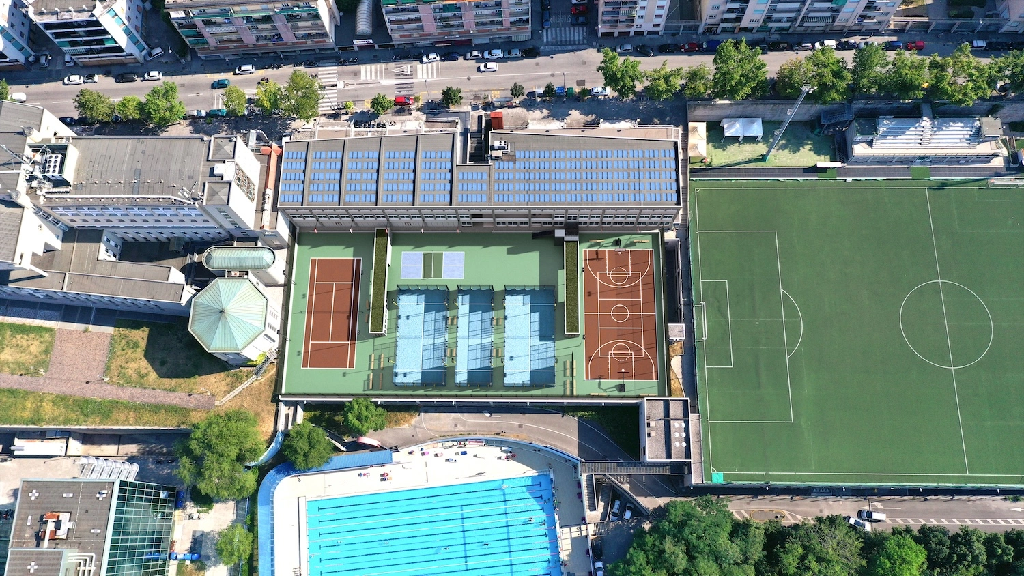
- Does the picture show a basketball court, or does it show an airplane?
basketball court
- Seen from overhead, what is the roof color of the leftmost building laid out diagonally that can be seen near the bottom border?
blue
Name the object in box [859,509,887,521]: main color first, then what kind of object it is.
white vehicle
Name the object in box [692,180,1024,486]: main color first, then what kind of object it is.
green soccer field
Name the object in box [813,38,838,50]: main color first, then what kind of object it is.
white vehicle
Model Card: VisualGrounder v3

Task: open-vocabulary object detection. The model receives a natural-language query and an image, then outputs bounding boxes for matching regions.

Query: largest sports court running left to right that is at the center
[401,250,465,280]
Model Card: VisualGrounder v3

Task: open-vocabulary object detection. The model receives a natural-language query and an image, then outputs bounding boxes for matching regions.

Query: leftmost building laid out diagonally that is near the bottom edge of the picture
[258,450,394,576]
